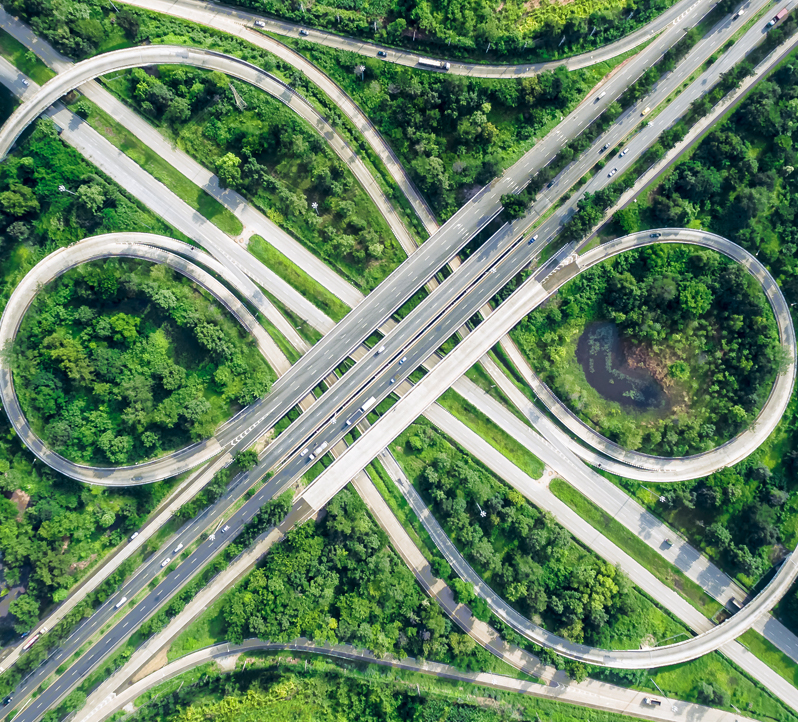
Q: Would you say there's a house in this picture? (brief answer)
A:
No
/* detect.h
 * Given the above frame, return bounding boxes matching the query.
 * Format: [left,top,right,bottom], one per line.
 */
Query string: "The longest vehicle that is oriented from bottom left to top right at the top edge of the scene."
[768,5,790,25]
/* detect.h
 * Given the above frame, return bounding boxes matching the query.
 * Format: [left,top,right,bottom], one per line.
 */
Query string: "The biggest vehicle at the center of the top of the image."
[418,57,450,69]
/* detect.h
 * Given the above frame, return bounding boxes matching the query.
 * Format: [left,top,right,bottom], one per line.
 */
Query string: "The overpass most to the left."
[0,51,112,172]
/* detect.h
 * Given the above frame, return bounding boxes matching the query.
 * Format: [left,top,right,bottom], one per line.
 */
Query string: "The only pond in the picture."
[574,320,669,409]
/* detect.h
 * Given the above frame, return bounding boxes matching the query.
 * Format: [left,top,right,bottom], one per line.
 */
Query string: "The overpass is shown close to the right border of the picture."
[689,541,798,660]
